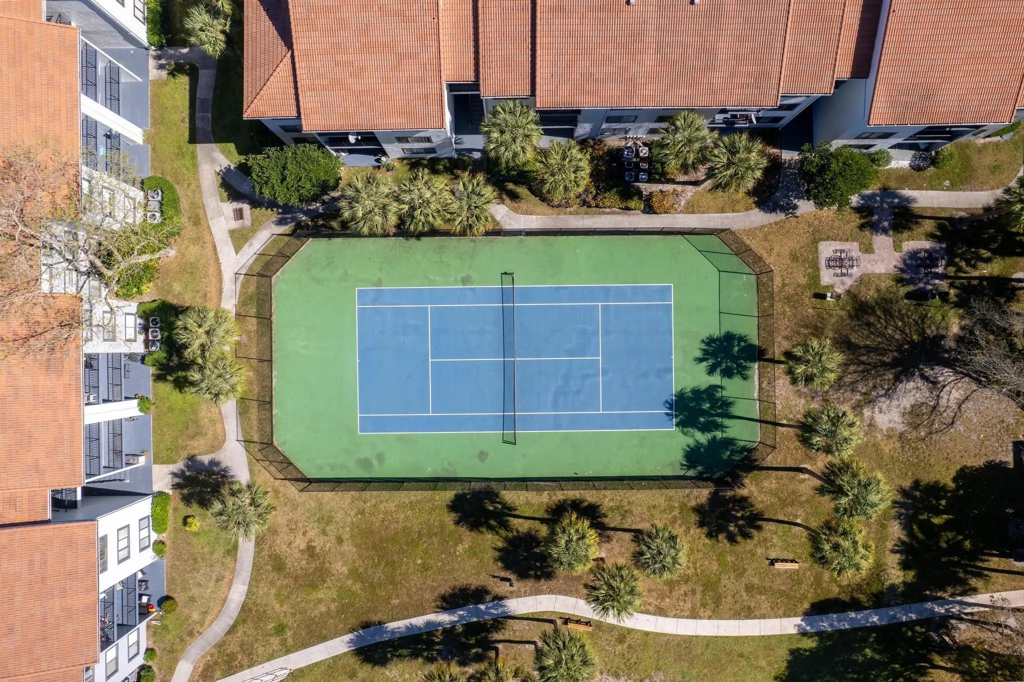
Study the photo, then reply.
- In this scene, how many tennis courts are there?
one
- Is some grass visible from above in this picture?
Yes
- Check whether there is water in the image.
No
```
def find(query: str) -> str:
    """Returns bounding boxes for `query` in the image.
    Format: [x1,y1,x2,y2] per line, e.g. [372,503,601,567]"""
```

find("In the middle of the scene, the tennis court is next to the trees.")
[271,234,761,480]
